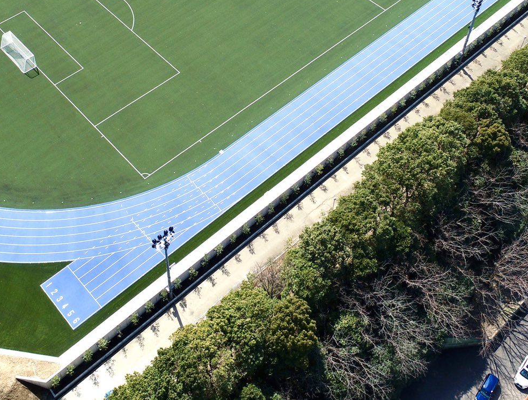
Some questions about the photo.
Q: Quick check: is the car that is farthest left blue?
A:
Yes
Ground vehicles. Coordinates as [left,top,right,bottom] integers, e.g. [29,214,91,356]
[475,371,499,400]
[514,353,528,390]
